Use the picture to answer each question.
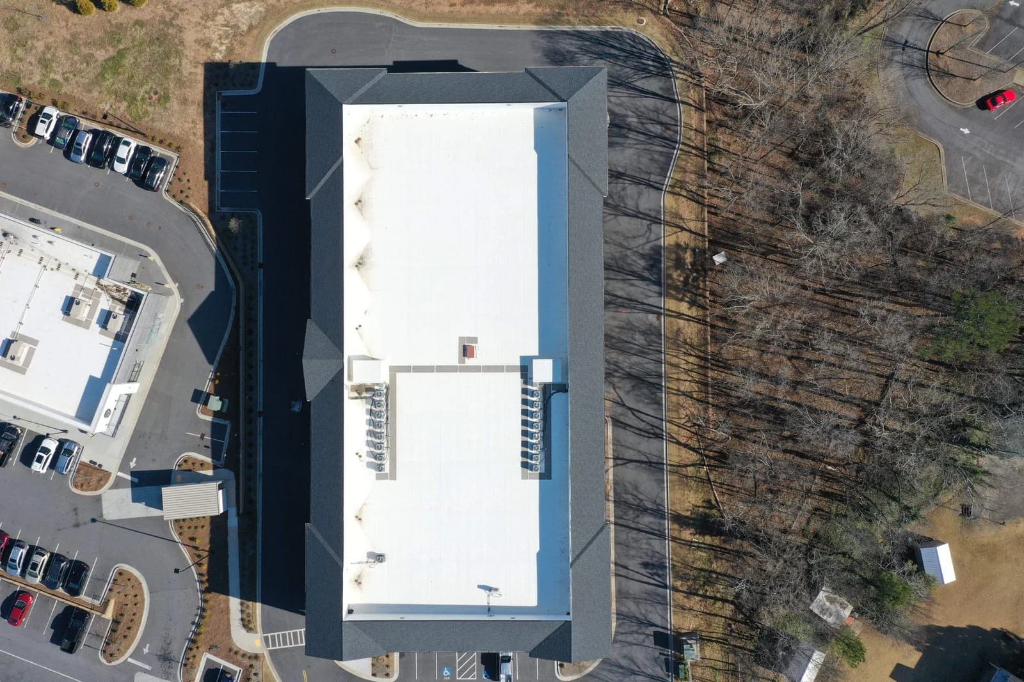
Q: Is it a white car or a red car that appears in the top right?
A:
red car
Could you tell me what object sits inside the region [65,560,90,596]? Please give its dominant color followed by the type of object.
black car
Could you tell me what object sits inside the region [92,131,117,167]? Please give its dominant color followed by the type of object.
black car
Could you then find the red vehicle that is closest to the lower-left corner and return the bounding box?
[9,591,34,627]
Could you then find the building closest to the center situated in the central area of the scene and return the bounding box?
[301,67,609,661]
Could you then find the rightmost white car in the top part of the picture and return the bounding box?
[113,137,137,173]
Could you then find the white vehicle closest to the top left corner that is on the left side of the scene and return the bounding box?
[35,106,60,139]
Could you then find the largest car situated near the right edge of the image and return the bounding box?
[981,88,1015,112]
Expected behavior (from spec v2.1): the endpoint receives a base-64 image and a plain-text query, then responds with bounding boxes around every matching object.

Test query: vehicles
[498,653,514,682]
[981,88,1015,112]
[32,439,58,473]
[60,610,91,654]
[0,92,19,128]
[6,541,30,574]
[57,439,81,474]
[143,156,169,192]
[55,116,80,151]
[128,146,152,181]
[92,131,117,167]
[27,550,51,583]
[70,128,94,164]
[65,560,90,596]
[35,106,60,139]
[9,591,34,627]
[0,425,23,469]
[45,553,69,589]
[0,533,14,568]
[113,137,137,173]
